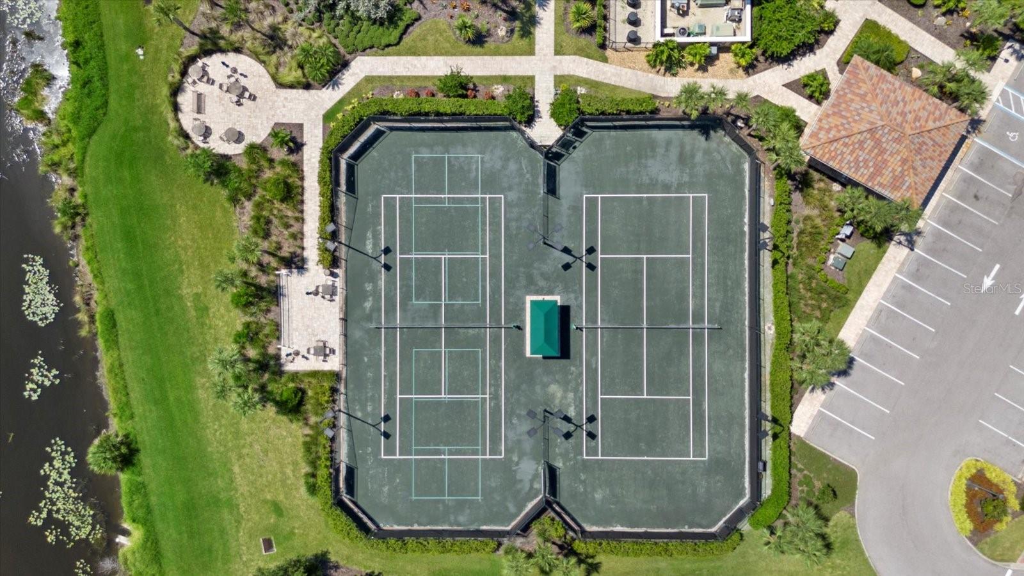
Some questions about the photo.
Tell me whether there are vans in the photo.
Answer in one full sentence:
No, the frame has no van in it.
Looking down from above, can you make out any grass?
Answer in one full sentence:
Yes, some grass is visible.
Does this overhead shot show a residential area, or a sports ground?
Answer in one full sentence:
This image shows a sports ground.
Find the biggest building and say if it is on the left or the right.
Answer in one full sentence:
You can find the biggest building on the right side of the picture.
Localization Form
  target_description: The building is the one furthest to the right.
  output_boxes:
[793,54,971,211]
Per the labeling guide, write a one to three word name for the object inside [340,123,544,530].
tennis court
